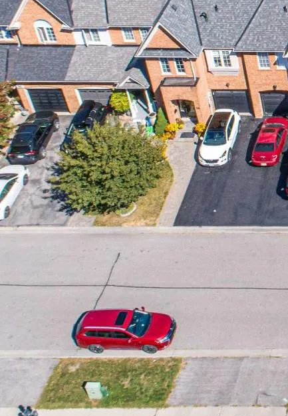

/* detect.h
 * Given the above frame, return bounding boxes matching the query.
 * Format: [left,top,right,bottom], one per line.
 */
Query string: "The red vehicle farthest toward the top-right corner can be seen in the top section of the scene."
[250,114,288,165]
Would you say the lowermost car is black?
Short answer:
No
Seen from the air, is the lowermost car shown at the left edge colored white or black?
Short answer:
white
